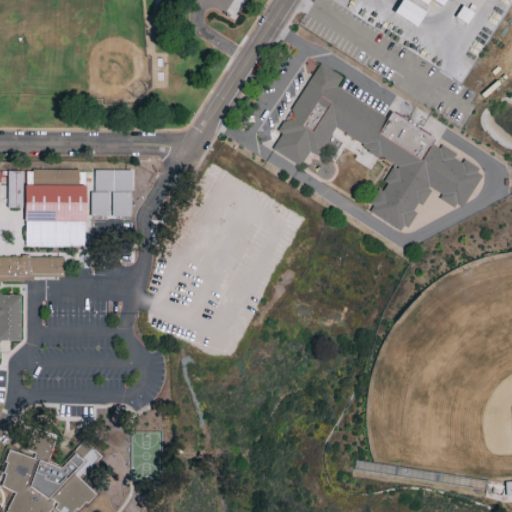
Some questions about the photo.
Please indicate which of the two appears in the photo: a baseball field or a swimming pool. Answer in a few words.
baseball field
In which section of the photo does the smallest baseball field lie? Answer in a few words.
top left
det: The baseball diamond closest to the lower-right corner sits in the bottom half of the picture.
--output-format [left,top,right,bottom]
[367,252,512,480]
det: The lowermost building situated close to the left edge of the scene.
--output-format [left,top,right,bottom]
[2,433,102,512]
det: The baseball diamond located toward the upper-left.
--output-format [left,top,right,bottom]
[90,37,150,104]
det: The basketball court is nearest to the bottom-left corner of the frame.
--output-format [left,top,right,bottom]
[131,432,162,480]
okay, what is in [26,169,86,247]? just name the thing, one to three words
building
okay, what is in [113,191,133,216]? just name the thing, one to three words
shed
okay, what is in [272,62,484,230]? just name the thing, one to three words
building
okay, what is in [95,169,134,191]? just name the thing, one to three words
shed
